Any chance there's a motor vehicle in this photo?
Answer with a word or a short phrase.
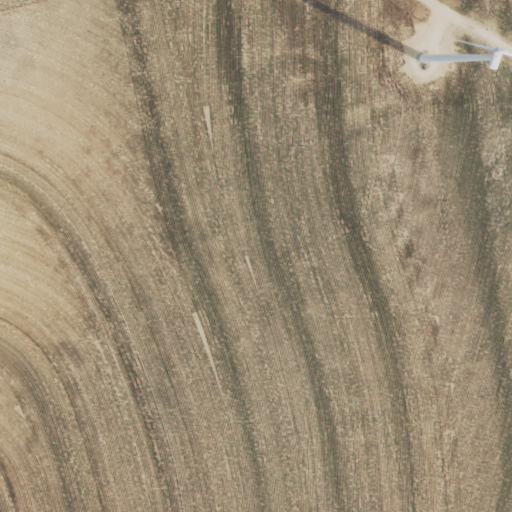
No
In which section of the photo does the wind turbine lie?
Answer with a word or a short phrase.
top right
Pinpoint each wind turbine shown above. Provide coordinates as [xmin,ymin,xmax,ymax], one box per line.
[418,36,512,69]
